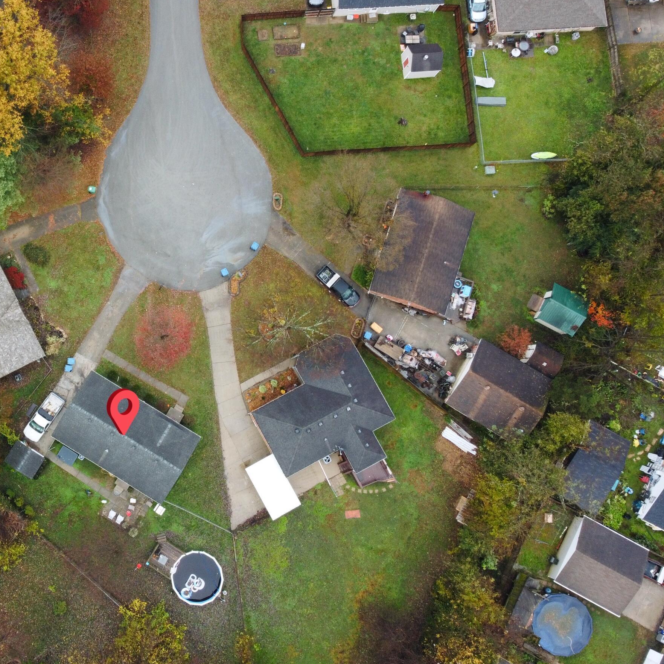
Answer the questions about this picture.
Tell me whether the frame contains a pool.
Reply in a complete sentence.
Yes, there's a pool here.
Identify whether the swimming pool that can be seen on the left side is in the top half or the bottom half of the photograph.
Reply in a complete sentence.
The swimming pool that can be seen on the left side is in the bottom half of the image.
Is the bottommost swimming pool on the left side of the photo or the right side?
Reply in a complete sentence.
It is on the right.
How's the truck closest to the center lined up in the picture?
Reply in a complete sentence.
I'd say the truck closest to the center is aligned on a diagonal in the picture.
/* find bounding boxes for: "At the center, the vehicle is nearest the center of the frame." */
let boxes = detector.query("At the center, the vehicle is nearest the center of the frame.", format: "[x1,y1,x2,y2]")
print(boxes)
[311,260,362,312]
